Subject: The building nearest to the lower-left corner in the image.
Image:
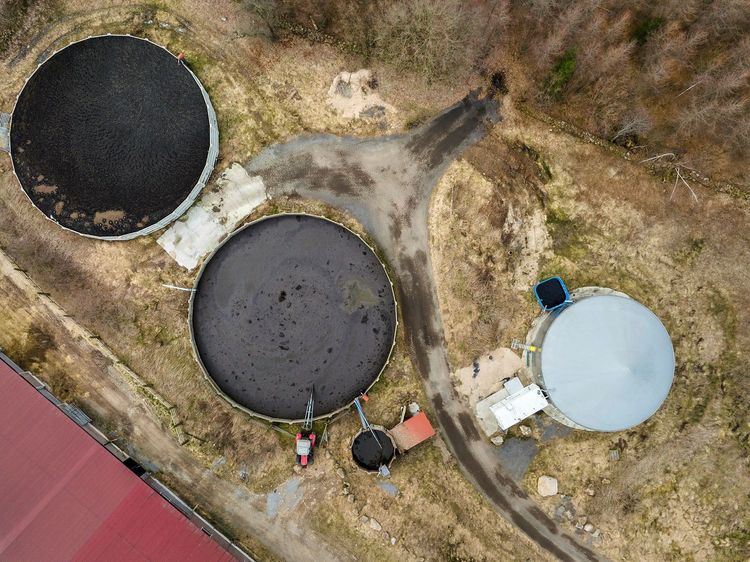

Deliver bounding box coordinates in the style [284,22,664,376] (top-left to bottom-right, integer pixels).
[0,342,264,562]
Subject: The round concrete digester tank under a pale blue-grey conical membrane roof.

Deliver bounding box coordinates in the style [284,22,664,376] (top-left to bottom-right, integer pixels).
[522,285,675,432]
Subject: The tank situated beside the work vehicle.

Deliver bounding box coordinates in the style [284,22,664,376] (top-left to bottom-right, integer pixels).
[188,211,399,423]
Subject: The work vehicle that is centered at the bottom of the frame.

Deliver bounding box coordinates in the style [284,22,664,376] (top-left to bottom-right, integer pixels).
[294,432,316,464]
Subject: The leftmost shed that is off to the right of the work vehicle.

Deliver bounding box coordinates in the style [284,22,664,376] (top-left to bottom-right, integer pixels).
[390,410,436,451]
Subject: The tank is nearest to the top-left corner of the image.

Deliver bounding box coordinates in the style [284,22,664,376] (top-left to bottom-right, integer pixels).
[8,35,218,239]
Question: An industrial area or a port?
industrial area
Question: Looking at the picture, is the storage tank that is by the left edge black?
Yes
